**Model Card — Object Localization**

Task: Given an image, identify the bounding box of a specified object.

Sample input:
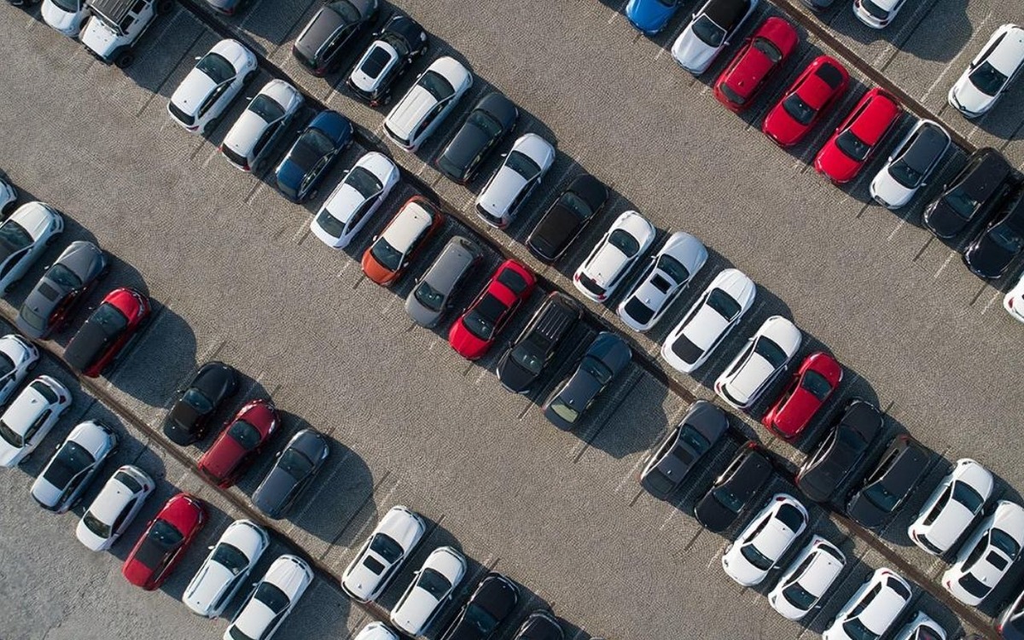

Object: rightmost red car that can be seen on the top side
[814,86,905,184]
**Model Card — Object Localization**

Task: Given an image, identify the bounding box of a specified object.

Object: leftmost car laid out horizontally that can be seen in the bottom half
[349,620,396,640]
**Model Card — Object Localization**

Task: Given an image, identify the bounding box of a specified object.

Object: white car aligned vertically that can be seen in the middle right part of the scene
[1001,266,1024,321]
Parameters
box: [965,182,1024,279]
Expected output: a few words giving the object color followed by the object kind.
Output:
black car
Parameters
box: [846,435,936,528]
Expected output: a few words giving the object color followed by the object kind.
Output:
black car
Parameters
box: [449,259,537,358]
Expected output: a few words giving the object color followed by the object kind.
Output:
red car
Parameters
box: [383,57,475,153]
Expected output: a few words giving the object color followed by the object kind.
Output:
white car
